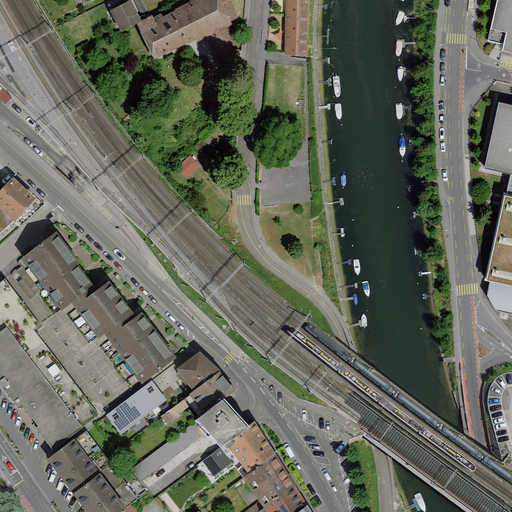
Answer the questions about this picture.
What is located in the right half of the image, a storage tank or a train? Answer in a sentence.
What appears in the right half of the image is a train.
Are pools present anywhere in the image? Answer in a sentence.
No, the photo shows no pool.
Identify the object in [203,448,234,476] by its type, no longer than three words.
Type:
house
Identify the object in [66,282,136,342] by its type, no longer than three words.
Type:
building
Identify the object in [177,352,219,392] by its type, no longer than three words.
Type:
house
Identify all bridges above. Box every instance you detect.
[334,337,512,512]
